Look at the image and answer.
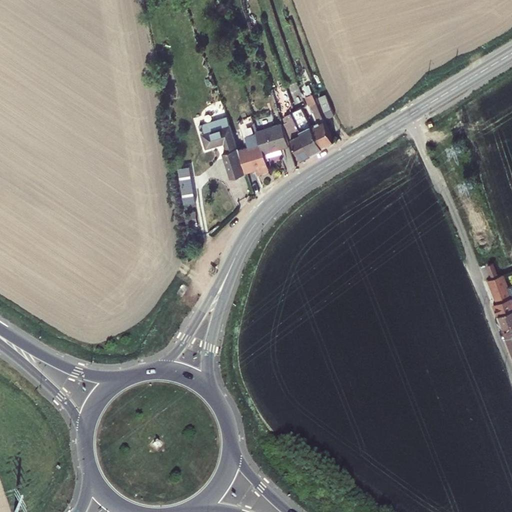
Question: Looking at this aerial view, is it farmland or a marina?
farmland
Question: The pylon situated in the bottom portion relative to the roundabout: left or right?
on the left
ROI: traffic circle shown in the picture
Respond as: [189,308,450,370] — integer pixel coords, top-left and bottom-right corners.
[76,362,239,512]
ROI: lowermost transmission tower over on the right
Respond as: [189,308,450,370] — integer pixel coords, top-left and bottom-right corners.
[458,182,474,202]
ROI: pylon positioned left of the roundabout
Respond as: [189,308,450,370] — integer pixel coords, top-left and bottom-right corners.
[10,486,32,512]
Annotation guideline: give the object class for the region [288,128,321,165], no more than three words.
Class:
house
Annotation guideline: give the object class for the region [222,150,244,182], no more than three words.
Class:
barn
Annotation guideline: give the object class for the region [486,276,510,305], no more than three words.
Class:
house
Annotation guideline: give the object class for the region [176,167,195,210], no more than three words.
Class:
shed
